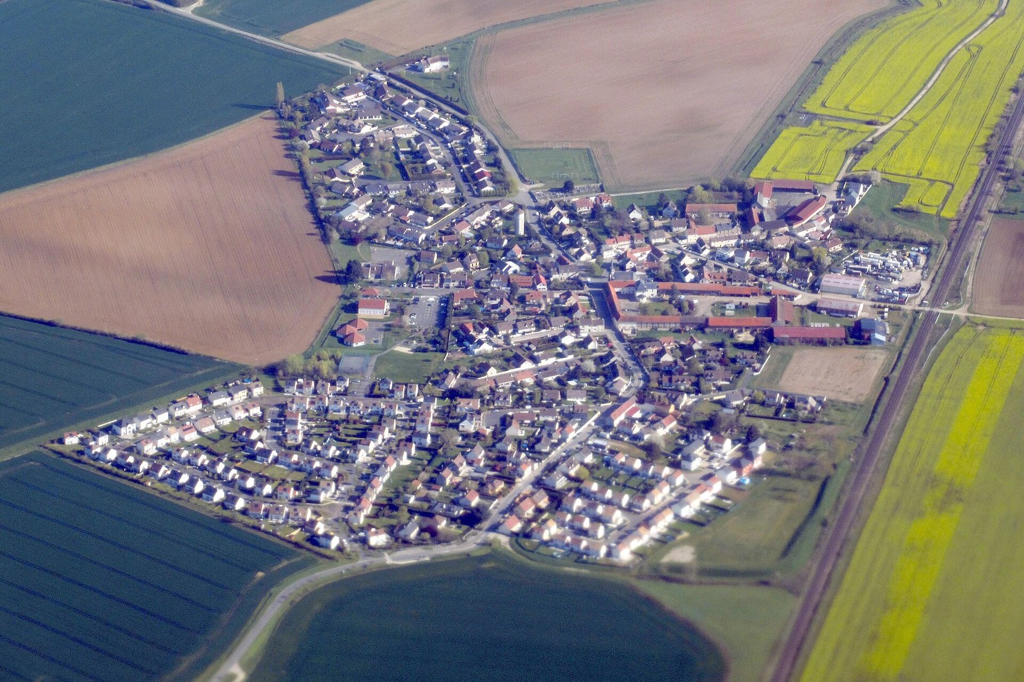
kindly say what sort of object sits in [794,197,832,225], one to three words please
barn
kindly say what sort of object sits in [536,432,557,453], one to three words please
house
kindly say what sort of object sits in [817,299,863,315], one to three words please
hangar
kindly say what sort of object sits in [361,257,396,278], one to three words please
building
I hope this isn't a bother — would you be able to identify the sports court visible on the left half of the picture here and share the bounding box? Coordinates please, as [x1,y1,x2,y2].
[339,354,369,372]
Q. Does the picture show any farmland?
Yes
